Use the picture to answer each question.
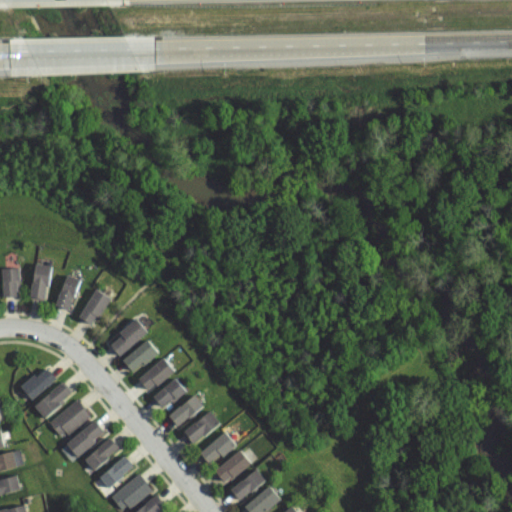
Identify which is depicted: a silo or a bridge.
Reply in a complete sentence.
It is a bridge that can be seen here.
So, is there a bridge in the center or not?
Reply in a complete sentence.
No, no bridge appears in the center.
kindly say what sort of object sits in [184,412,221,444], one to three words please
house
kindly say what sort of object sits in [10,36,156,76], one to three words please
bridge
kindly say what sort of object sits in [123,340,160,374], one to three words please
house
